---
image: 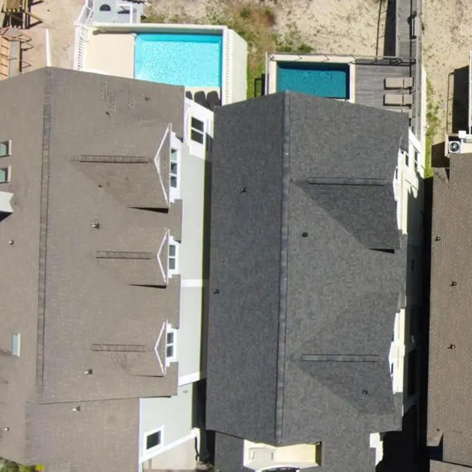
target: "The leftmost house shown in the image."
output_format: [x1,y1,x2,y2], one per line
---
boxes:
[0,68,215,472]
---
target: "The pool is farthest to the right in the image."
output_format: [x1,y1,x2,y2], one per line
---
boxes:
[269,55,357,104]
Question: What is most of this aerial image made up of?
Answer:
buildings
